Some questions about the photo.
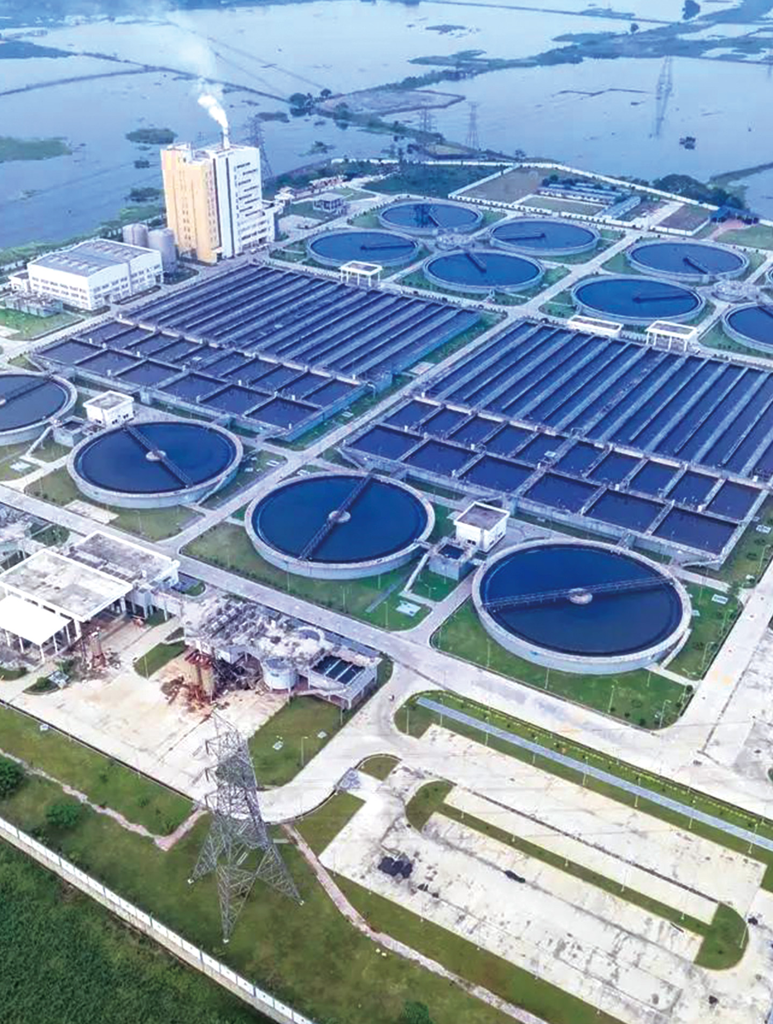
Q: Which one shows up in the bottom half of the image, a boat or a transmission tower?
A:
transmission tower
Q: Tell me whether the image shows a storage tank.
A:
Yes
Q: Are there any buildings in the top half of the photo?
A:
Yes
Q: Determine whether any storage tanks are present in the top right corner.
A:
Yes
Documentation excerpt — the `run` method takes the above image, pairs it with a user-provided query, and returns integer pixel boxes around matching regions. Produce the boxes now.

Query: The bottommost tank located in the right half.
[476,535,693,675]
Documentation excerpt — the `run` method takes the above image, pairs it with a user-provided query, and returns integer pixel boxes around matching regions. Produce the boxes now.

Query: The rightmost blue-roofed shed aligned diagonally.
[603,194,644,224]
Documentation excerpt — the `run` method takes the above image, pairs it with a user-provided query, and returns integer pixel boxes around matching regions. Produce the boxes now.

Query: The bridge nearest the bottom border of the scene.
[482,571,681,615]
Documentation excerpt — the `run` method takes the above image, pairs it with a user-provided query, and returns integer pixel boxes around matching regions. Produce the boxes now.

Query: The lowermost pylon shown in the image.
[184,710,306,943]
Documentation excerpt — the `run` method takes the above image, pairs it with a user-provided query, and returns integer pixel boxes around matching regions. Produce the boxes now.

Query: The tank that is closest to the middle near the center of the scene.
[245,466,437,580]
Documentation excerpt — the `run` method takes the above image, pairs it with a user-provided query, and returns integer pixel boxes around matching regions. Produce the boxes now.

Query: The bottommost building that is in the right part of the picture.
[453,500,507,556]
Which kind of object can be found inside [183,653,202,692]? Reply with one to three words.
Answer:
silo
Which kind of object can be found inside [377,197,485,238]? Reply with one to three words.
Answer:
storage tank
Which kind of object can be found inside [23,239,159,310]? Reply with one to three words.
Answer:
building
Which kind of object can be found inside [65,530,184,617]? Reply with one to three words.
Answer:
building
